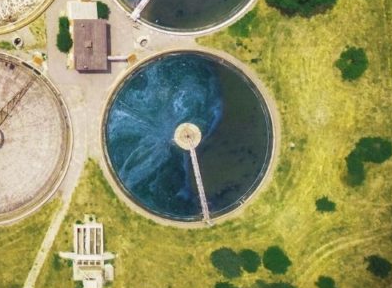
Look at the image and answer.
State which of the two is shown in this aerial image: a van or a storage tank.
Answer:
storage tank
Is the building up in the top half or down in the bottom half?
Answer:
top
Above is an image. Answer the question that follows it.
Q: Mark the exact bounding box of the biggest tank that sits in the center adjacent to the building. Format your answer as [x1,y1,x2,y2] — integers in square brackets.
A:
[100,46,280,226]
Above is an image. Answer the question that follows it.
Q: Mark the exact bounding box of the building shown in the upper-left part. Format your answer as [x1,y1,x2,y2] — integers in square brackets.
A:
[65,1,128,71]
